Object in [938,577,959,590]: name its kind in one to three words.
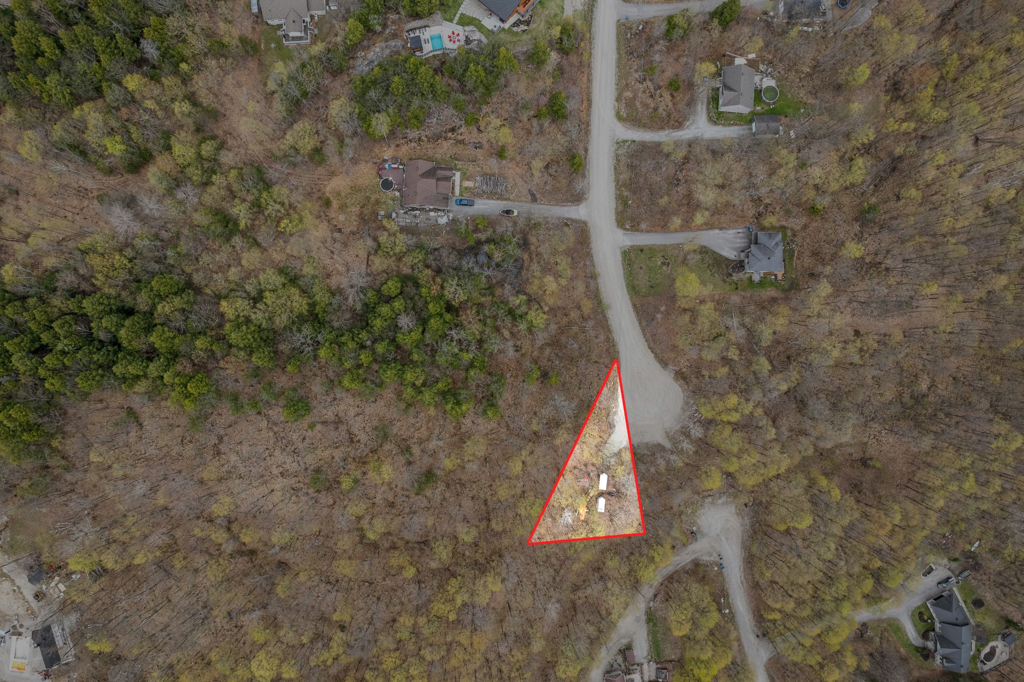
vehicle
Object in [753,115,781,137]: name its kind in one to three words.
building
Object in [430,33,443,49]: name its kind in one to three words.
swimming pool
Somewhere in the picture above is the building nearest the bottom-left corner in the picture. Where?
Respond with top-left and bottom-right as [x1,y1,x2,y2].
[29,624,66,667]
